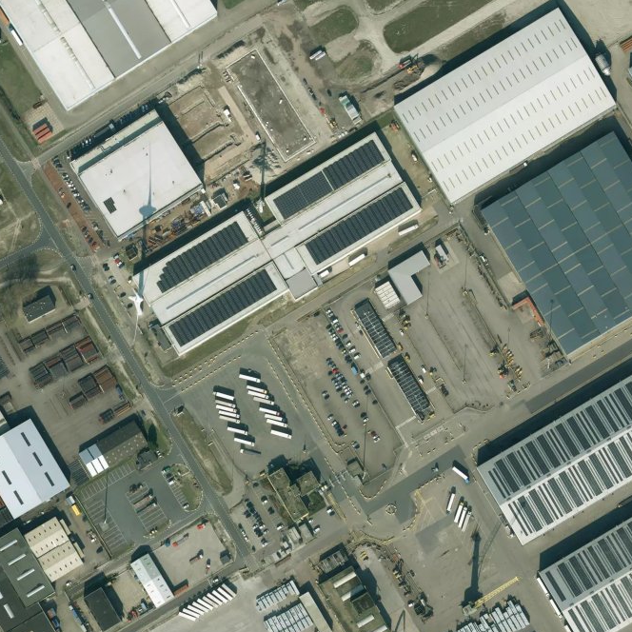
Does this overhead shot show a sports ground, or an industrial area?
industrial area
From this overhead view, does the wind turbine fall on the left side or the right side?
left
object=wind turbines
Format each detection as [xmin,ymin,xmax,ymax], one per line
[125,259,145,326]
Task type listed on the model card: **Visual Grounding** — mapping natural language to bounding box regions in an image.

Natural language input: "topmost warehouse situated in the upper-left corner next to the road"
[0,0,218,113]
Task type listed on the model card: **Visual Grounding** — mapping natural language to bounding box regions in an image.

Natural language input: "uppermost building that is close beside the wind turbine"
[70,109,202,240]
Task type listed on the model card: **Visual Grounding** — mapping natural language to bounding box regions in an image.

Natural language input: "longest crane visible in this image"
[458,581,521,620]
